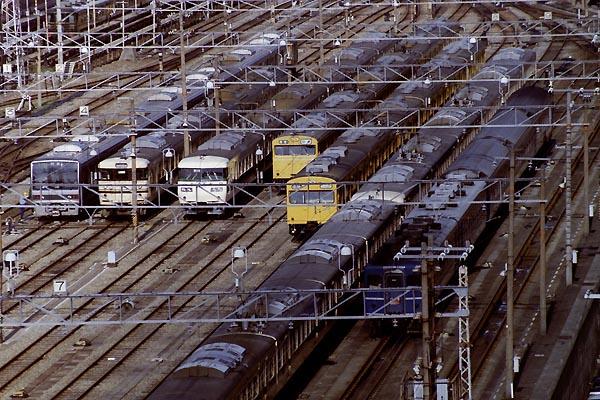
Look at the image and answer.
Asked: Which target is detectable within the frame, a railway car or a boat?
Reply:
railway car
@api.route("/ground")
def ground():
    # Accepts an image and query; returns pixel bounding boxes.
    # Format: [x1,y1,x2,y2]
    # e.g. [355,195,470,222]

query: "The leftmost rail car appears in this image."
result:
[31,134,129,218]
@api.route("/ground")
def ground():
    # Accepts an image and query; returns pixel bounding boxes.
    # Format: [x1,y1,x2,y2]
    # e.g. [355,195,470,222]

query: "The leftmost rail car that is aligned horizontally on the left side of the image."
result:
[89,111,171,143]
